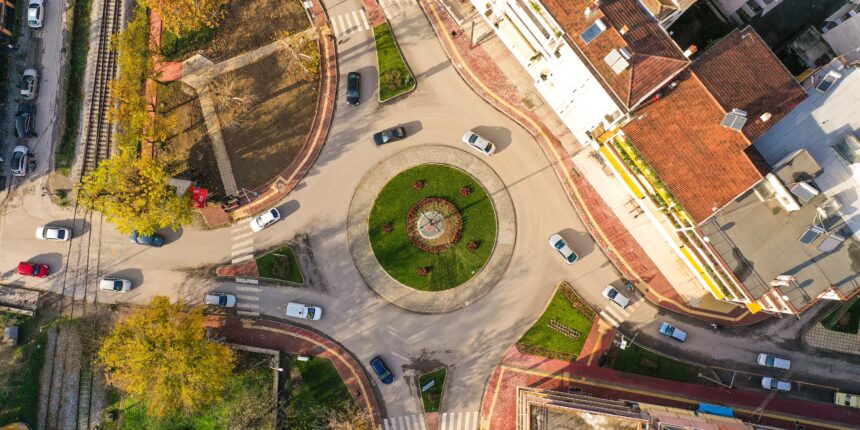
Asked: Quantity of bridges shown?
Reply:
zero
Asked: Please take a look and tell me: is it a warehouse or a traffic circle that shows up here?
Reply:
traffic circle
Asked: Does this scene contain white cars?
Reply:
Yes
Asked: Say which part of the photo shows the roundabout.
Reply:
center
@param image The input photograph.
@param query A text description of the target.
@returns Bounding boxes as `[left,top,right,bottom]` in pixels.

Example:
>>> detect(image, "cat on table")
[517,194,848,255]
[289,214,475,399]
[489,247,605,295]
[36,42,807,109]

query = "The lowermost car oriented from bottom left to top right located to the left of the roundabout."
[249,206,281,232]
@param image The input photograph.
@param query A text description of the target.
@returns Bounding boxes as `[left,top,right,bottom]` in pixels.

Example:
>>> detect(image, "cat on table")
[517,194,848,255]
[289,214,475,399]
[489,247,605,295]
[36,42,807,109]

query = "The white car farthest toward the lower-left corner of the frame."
[98,277,134,292]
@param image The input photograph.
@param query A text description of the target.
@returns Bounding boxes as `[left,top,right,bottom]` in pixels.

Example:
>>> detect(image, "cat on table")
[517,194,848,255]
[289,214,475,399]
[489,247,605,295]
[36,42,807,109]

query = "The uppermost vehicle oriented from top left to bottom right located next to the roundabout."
[461,129,496,156]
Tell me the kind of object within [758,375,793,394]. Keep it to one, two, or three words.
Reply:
car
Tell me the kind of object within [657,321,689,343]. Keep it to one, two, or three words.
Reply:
car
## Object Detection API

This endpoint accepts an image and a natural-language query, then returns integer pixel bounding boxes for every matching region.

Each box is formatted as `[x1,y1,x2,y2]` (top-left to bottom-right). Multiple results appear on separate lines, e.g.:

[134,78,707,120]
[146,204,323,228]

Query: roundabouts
[347,146,517,316]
